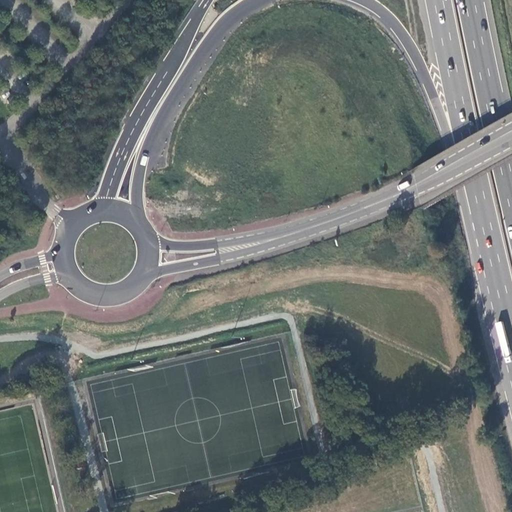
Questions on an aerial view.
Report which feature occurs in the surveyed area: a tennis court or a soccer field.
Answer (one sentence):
I can see a soccer field in this picture.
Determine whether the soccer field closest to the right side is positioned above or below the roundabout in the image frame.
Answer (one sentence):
It's below the roundabout that the soccer field closest to the right side shows up.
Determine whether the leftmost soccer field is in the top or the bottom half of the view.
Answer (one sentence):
The bottom half of the photo is where the leftmost soccer field is.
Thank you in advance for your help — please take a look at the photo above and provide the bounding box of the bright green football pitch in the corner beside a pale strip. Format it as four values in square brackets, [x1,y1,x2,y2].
[0,397,66,512]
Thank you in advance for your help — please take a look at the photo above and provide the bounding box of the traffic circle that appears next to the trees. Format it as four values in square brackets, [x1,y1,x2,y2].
[0,133,216,308]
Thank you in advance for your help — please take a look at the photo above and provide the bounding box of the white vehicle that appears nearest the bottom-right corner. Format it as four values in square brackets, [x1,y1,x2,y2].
[494,321,510,362]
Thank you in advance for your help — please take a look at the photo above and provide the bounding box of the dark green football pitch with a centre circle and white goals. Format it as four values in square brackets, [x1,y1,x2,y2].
[78,330,315,504]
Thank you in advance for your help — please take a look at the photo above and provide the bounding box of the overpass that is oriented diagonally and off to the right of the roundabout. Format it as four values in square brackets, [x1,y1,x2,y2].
[412,112,512,206]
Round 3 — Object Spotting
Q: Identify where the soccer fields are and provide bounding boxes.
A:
[78,330,315,504]
[0,397,66,512]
